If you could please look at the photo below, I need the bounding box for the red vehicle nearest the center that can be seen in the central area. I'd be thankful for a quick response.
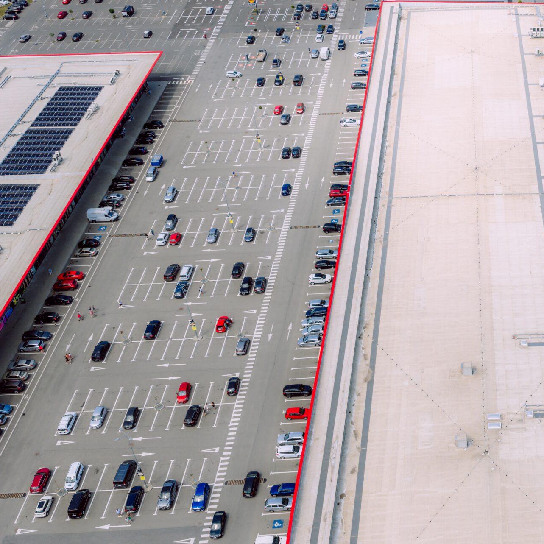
[216,317,232,334]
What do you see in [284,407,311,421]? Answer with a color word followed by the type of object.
red vehicle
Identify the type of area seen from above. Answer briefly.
parking lot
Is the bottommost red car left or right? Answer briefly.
left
